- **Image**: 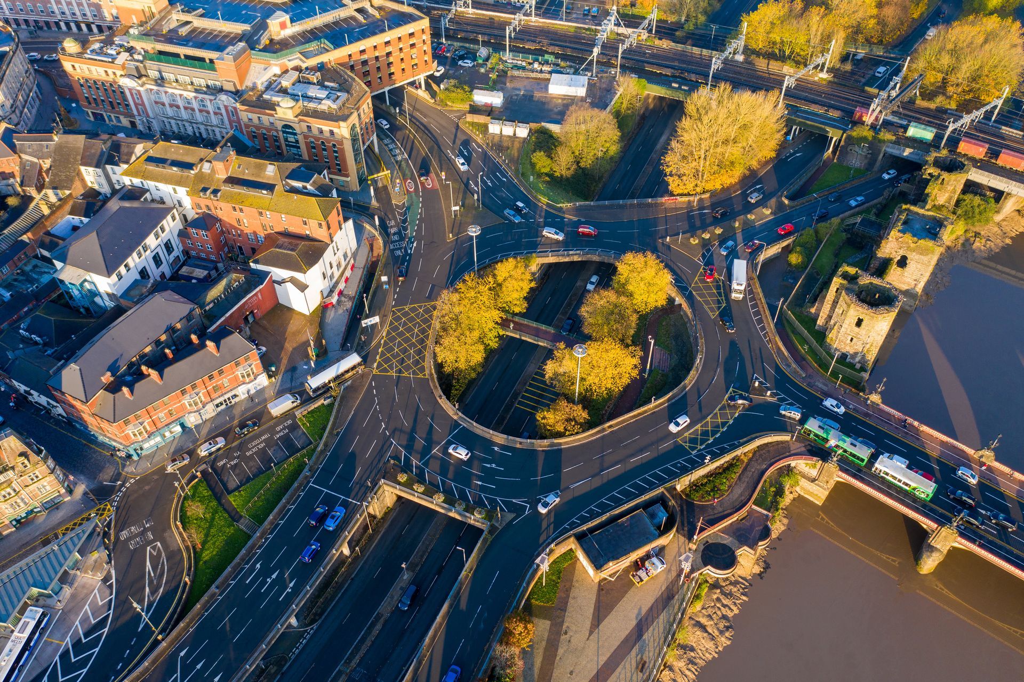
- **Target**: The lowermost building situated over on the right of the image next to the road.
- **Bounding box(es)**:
[570,496,679,585]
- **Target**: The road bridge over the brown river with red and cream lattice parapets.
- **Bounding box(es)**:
[800,375,1024,582]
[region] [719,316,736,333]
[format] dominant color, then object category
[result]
blue car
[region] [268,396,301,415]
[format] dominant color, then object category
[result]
white vehicle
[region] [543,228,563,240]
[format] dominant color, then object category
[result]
white vehicle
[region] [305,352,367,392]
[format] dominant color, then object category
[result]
white bus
